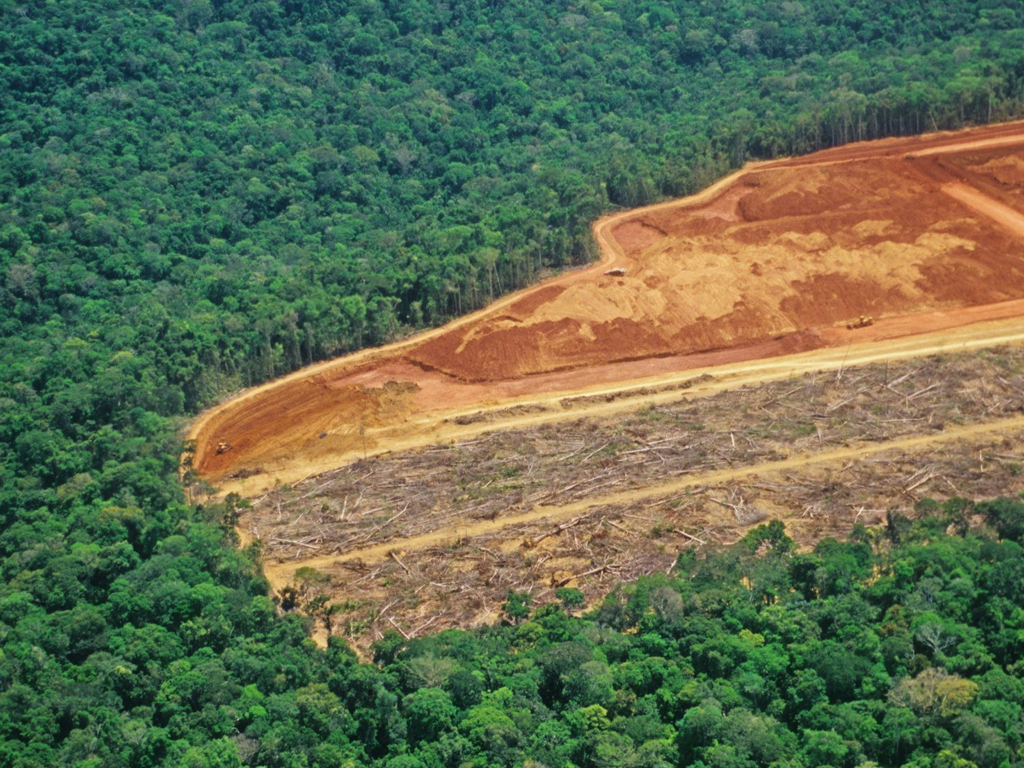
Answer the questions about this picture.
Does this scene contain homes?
No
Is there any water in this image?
No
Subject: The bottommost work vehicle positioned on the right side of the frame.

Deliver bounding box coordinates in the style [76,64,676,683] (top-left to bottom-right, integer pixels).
[849,317,872,331]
